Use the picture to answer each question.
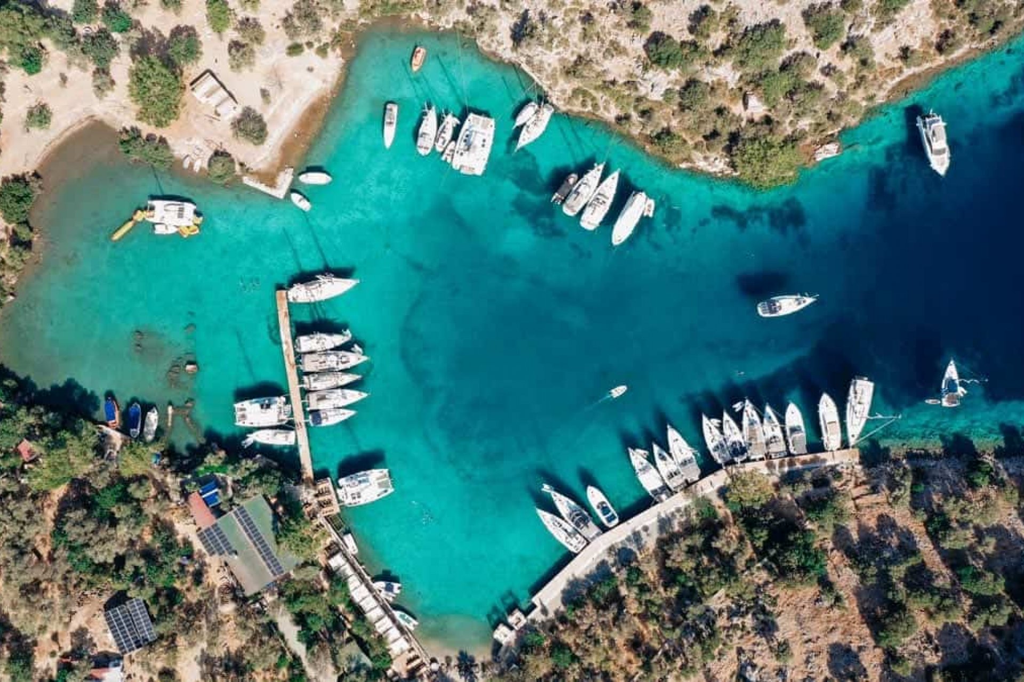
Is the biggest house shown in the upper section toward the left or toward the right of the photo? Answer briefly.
left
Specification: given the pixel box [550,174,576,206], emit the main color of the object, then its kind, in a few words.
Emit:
gray boat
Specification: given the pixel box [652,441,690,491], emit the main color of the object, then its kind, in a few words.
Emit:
white boat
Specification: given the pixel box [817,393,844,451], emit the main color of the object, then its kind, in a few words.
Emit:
white boat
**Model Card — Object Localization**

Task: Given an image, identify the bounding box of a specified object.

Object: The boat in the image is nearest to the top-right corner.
[913,111,949,174]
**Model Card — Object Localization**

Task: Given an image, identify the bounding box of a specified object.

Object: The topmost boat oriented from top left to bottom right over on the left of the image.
[292,193,312,212]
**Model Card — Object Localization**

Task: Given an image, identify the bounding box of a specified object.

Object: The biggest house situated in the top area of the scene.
[190,70,241,117]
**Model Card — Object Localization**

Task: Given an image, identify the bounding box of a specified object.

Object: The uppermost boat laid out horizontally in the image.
[299,171,332,184]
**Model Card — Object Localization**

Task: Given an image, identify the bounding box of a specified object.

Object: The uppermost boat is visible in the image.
[411,45,427,71]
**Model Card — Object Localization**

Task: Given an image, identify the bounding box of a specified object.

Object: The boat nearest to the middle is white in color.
[609,386,627,399]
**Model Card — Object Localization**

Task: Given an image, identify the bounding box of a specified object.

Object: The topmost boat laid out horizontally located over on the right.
[752,293,822,318]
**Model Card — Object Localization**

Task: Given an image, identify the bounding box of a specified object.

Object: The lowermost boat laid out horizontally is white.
[375,580,402,593]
